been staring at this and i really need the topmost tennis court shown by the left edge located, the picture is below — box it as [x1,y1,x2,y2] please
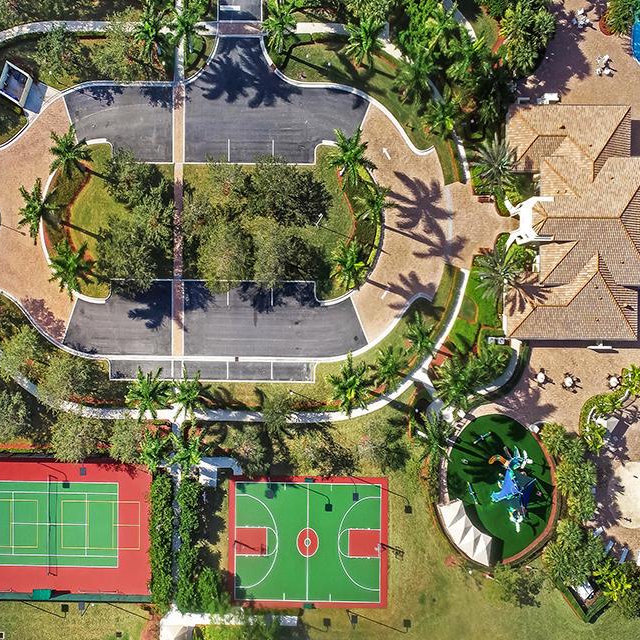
[0,462,148,594]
